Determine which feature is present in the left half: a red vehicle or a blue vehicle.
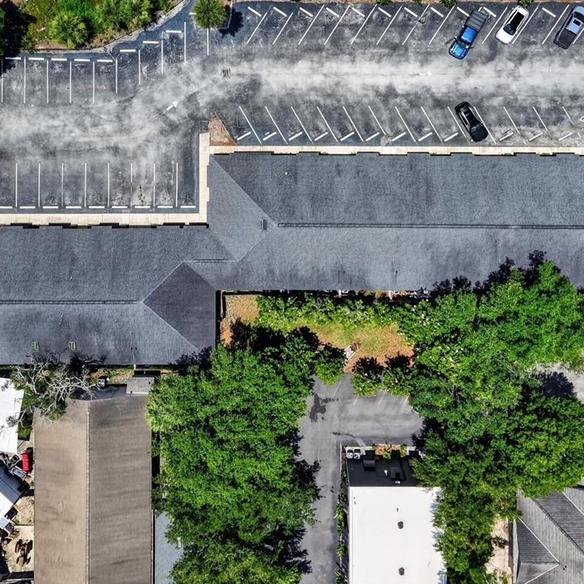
red vehicle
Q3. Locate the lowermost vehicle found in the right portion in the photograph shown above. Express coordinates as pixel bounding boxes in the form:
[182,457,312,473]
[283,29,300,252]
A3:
[455,100,486,145]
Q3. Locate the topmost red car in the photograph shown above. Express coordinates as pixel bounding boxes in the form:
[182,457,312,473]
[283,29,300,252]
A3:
[16,444,34,476]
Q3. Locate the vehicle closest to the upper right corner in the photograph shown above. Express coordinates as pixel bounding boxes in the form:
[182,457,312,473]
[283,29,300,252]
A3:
[553,5,584,52]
